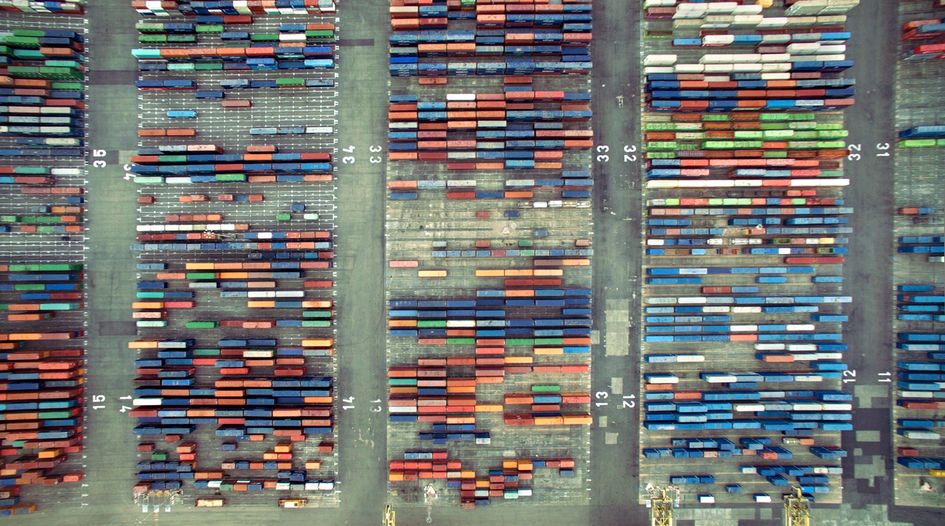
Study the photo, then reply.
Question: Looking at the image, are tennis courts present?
No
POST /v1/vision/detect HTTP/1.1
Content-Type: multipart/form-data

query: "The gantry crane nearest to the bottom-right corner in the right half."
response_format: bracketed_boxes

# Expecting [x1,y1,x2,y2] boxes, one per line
[784,484,809,526]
